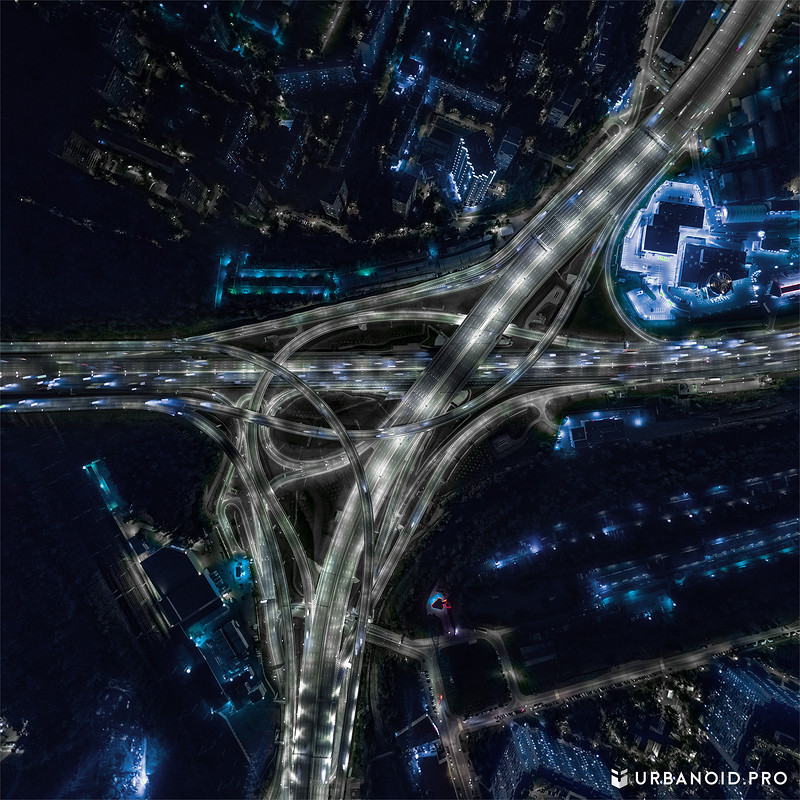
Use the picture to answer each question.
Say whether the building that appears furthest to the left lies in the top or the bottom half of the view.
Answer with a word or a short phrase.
top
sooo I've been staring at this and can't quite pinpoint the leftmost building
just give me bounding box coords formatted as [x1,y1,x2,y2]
[38,120,100,176]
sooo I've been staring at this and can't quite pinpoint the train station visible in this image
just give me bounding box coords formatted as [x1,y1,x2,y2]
[87,457,170,617]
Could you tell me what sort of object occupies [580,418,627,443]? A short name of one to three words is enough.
building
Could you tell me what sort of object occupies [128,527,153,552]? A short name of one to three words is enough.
shed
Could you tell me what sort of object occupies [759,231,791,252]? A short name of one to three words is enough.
building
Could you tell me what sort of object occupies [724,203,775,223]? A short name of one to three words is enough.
hangar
